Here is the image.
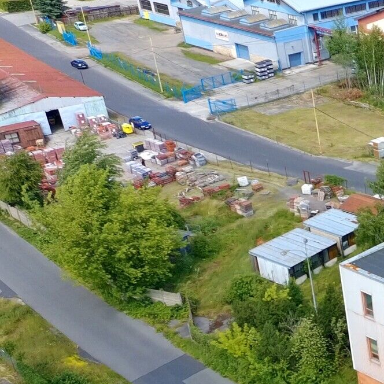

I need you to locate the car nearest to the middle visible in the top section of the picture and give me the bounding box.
[126,111,153,129]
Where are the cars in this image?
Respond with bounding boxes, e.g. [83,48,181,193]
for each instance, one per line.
[72,17,90,29]
[67,55,89,69]
[126,111,153,129]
